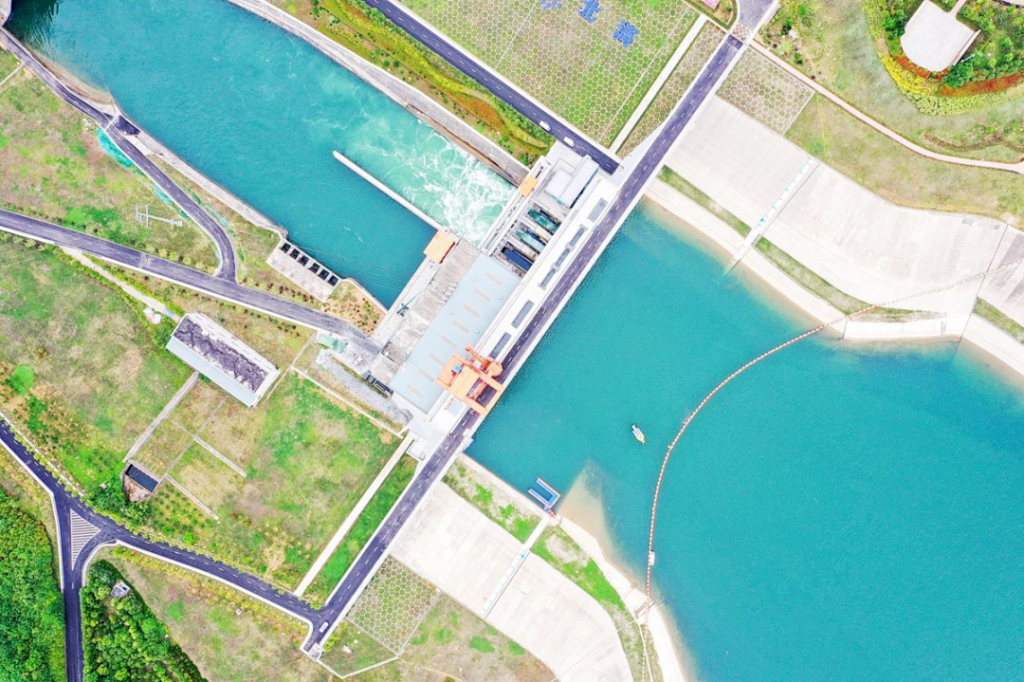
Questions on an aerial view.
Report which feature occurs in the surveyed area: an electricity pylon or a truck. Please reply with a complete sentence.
The image shows an electricity pylon.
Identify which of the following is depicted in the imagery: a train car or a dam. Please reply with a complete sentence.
The image shows a dam.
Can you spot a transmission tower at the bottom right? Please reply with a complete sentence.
No, there is no transmission tower at the bottom right.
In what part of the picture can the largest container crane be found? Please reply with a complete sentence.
The largest container crane is in the center part of the image.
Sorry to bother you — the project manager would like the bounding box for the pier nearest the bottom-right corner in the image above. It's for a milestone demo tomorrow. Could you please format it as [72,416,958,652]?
[528,478,561,518]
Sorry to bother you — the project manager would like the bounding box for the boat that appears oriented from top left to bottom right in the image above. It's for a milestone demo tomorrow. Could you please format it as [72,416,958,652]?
[631,425,645,443]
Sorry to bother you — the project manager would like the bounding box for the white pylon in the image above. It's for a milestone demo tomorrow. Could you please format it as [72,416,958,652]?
[137,200,183,226]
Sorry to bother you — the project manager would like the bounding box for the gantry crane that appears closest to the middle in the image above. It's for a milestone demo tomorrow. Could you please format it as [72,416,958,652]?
[435,345,506,416]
